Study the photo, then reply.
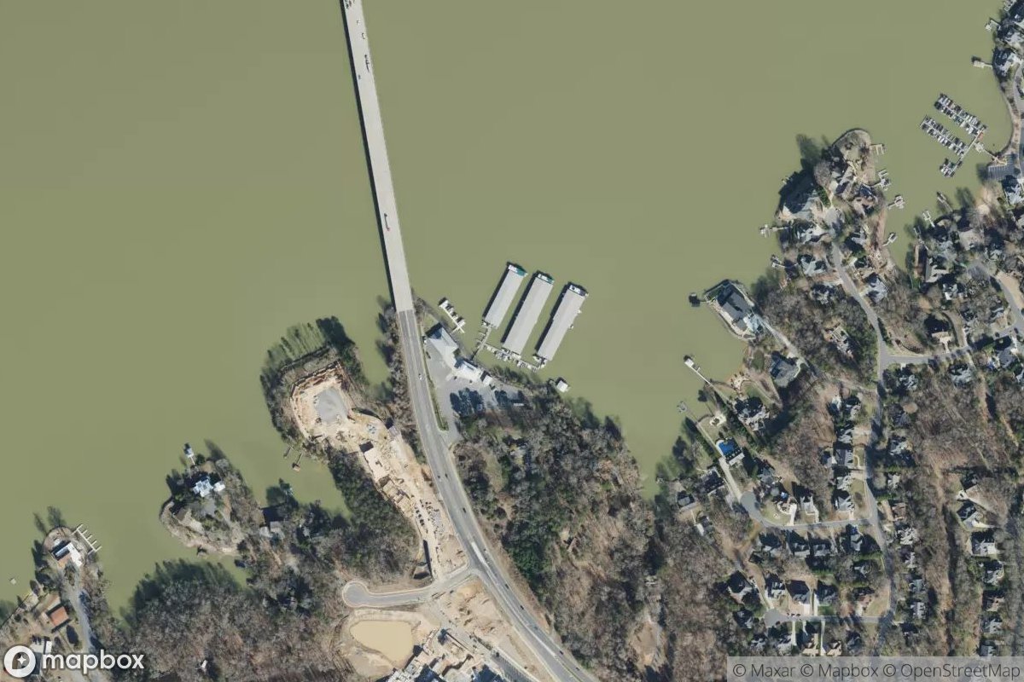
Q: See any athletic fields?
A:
No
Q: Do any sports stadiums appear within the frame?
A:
No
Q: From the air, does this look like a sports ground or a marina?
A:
marina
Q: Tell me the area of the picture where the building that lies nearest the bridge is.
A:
center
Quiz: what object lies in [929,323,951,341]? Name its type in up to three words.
house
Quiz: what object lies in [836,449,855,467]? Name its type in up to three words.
house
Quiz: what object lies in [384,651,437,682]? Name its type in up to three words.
building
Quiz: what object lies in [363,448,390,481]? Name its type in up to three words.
building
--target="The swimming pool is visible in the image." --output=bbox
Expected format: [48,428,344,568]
[717,437,736,455]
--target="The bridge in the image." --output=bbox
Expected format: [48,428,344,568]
[344,0,414,313]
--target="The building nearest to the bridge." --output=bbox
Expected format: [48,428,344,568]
[428,327,459,367]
